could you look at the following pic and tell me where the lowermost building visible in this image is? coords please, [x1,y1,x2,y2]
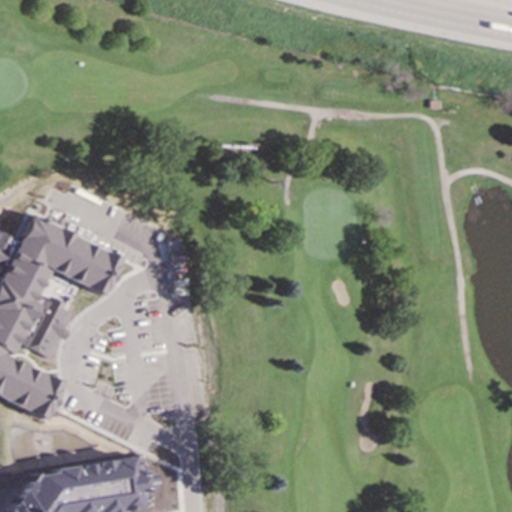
[22,456,159,512]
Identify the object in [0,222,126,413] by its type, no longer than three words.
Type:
building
